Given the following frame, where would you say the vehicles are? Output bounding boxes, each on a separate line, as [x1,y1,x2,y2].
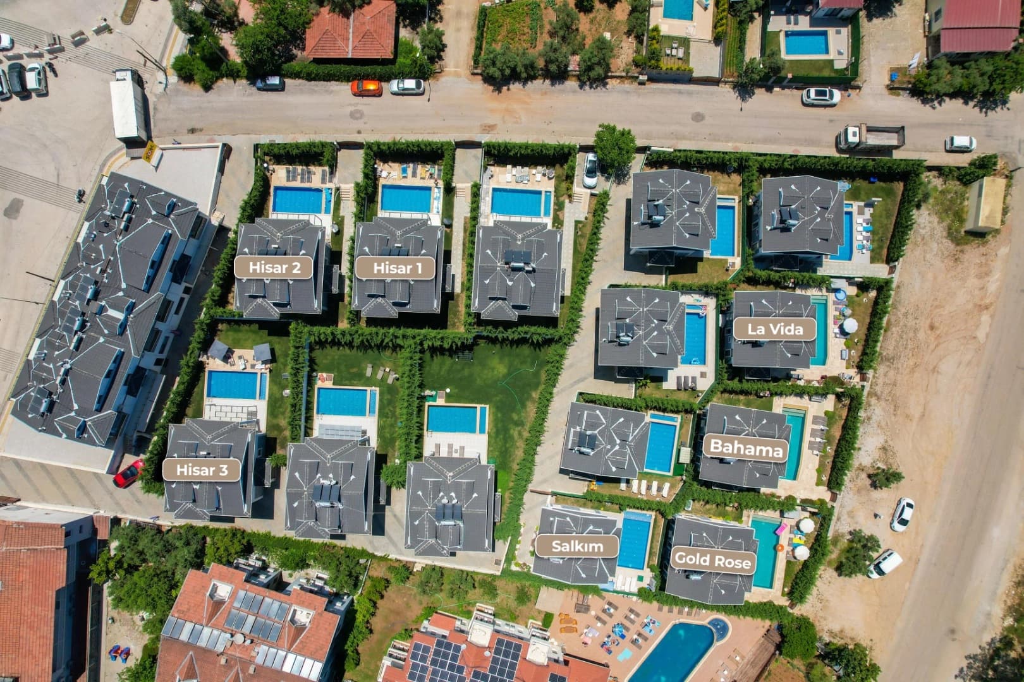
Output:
[108,459,145,491]
[1,59,26,98]
[350,79,382,96]
[947,133,980,151]
[388,77,424,94]
[803,84,843,104]
[253,71,282,89]
[110,67,151,146]
[891,498,918,535]
[869,549,910,581]
[21,60,45,96]
[835,122,906,149]
[0,30,15,50]
[71,186,82,203]
[43,60,55,76]
[582,151,600,188]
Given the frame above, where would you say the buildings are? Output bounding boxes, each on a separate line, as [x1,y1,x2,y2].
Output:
[352,211,455,317]
[625,168,717,270]
[231,212,346,319]
[381,601,611,682]
[809,0,863,20]
[530,495,624,593]
[560,397,653,487]
[305,0,395,65]
[722,291,818,381]
[0,509,96,682]
[403,440,503,557]
[919,0,1021,65]
[964,177,1007,231]
[691,403,792,492]
[283,423,391,539]
[596,289,686,380]
[147,541,362,682]
[749,172,845,273]
[470,214,567,320]
[661,510,760,608]
[0,141,233,475]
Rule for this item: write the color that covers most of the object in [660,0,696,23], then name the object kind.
blue swimming pool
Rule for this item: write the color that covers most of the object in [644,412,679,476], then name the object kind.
blue swimming pool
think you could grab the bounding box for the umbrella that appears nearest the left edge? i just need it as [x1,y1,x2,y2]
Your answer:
[206,338,240,363]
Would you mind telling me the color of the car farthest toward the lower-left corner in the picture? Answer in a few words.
red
